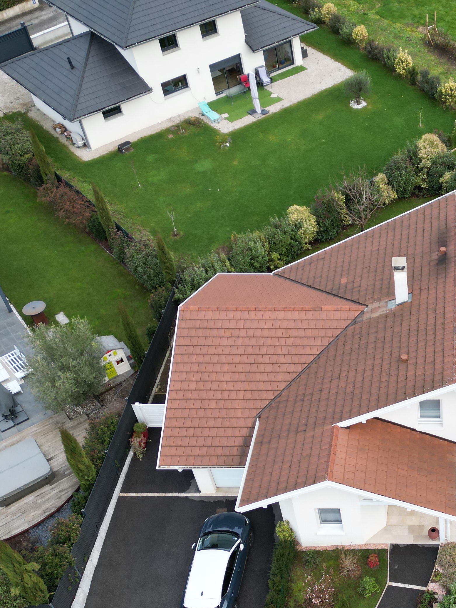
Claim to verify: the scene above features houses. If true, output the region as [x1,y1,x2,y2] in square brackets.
[155,189,456,544]
[0,0,321,149]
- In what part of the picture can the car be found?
bottom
